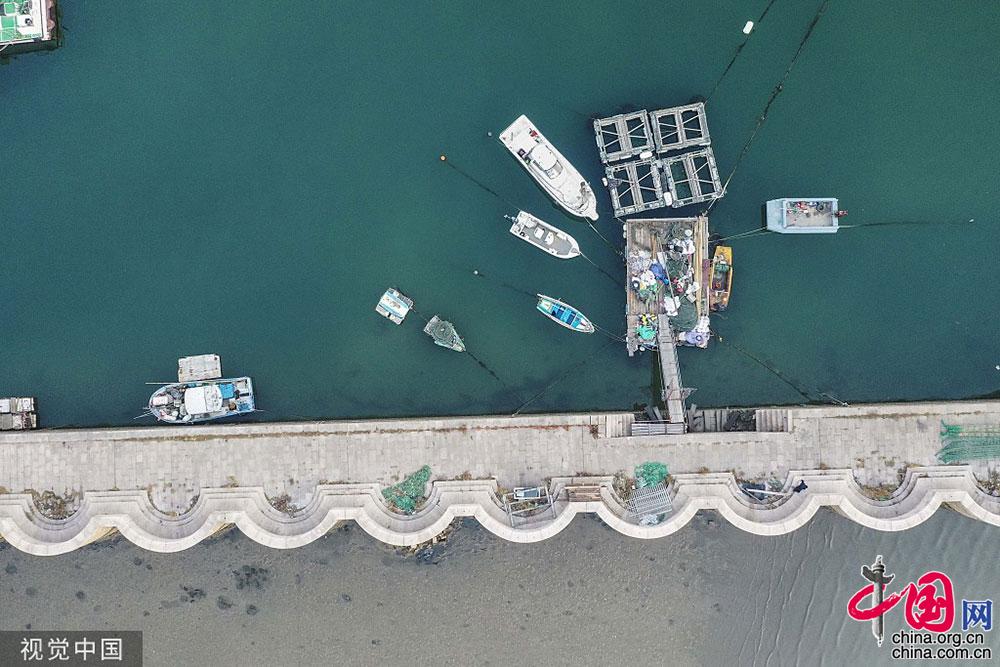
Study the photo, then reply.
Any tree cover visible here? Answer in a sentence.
No, no tree cover is visible.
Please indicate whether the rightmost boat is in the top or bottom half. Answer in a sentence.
The top half of the photo is where the rightmost boat is.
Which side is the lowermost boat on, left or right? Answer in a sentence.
It is on the left.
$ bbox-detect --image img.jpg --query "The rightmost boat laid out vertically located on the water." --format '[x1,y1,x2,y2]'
[710,246,734,313]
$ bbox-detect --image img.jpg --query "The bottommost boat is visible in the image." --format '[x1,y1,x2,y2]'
[135,377,255,424]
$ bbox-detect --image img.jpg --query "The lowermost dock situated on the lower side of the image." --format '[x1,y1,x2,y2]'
[0,397,1000,555]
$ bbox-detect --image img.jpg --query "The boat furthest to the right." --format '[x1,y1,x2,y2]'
[766,198,847,233]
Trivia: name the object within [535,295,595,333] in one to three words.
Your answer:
boat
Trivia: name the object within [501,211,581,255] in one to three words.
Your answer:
boat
